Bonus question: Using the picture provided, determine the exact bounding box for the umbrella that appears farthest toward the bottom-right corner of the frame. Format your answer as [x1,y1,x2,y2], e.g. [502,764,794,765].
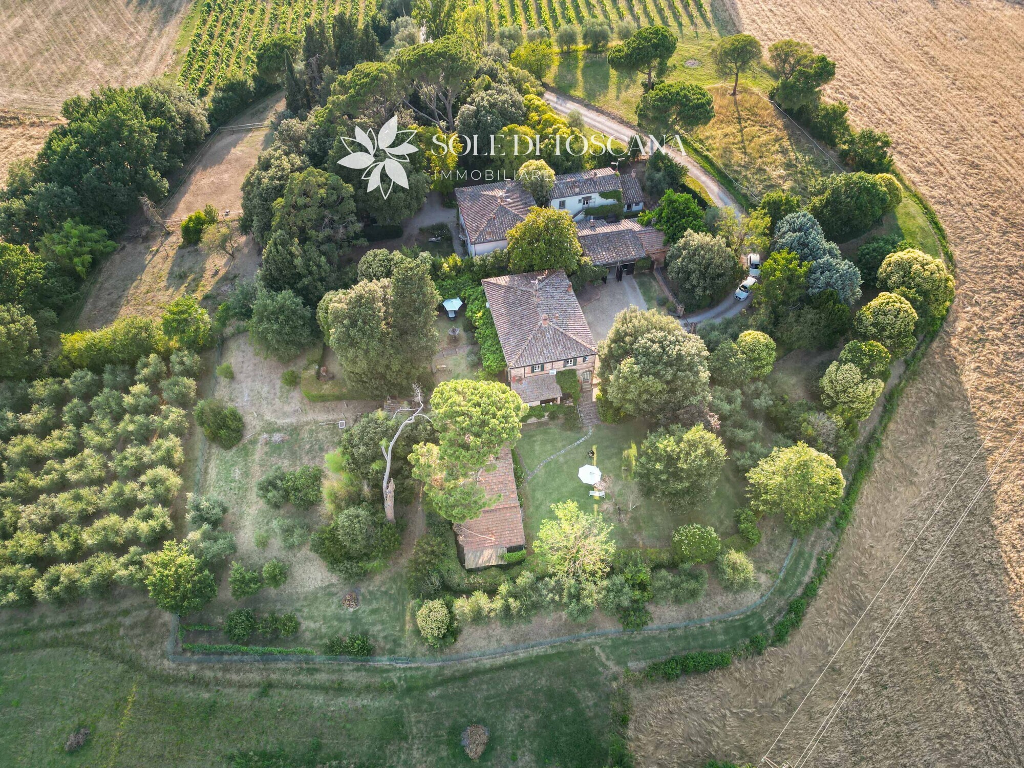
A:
[577,466,604,488]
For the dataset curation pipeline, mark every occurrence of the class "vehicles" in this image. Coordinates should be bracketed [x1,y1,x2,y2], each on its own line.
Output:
[746,255,762,279]
[736,277,755,301]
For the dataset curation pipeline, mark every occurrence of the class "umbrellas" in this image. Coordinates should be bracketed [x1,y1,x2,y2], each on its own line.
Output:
[577,466,604,488]
[444,300,462,319]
